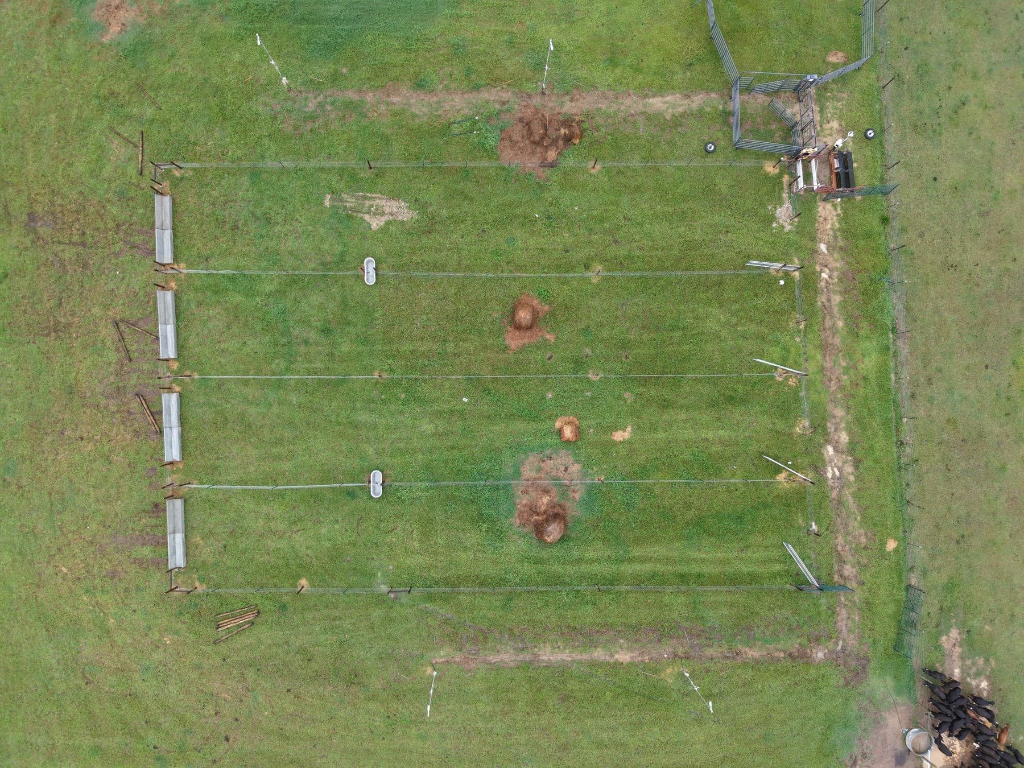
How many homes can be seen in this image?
none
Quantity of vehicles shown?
zero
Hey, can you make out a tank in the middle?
No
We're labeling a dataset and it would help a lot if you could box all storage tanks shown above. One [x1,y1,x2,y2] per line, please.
[906,729,936,758]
